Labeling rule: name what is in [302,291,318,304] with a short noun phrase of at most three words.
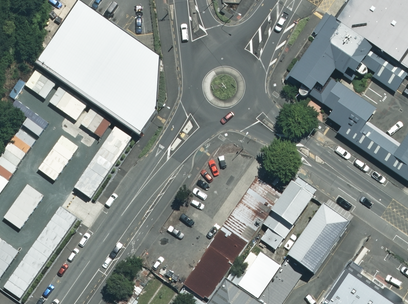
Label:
vehicle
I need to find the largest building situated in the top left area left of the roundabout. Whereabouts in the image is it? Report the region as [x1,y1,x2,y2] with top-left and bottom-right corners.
[38,0,159,136]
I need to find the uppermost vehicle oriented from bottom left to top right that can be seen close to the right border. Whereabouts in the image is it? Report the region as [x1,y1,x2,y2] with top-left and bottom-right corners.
[387,122,404,136]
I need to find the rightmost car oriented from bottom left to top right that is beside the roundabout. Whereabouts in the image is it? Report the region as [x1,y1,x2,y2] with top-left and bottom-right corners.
[219,110,236,125]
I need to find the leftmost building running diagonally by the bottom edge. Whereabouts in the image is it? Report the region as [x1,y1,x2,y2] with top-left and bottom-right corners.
[4,208,78,299]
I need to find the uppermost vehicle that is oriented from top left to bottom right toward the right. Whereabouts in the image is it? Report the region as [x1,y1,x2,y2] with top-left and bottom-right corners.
[335,146,352,160]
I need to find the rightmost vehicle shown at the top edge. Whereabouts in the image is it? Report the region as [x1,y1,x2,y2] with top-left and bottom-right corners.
[274,13,289,32]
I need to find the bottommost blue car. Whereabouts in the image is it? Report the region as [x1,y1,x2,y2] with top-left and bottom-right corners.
[42,284,56,300]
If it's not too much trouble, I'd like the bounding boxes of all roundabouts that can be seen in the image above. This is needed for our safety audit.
[202,66,246,110]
